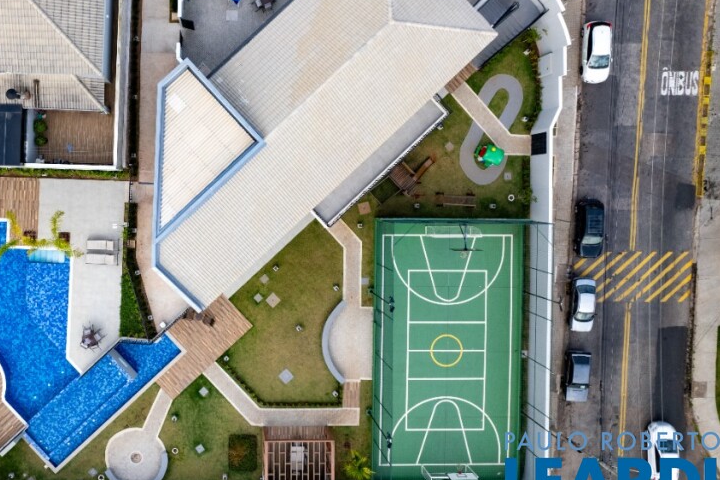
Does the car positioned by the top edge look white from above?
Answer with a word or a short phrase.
Yes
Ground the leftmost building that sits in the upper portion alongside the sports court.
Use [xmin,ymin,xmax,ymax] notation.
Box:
[154,0,498,312]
